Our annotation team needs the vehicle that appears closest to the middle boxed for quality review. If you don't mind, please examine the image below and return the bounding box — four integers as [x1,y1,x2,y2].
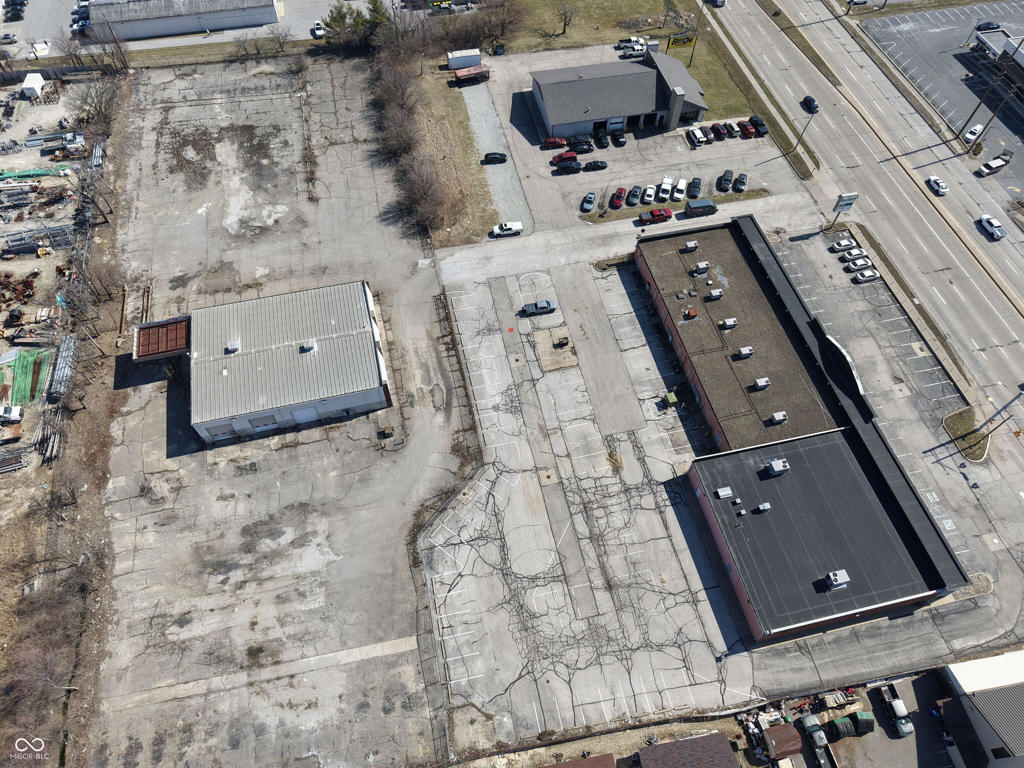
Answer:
[523,299,558,316]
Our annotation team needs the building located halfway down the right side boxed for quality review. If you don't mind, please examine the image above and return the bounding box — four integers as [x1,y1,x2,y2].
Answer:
[634,211,975,642]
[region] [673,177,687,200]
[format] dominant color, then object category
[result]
white vehicle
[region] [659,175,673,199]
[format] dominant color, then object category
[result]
white vehicle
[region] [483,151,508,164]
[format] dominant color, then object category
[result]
black vehicle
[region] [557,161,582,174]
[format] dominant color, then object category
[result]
black vehicle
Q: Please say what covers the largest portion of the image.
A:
paved ground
